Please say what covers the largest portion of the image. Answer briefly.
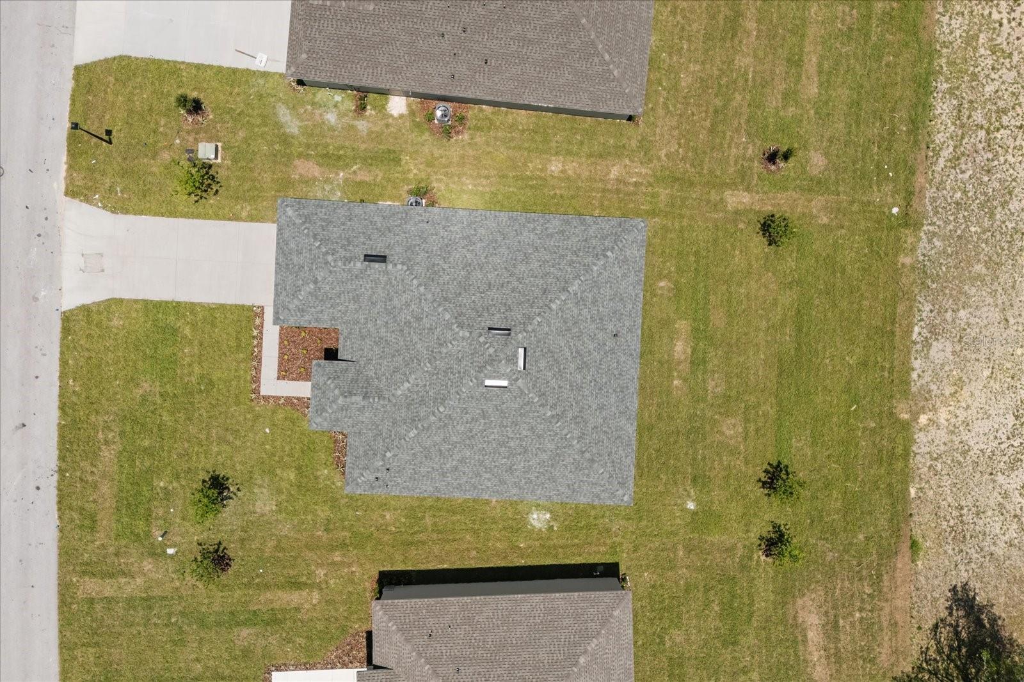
grass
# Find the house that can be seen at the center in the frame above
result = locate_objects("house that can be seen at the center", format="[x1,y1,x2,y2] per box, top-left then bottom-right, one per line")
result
[272,197,649,507]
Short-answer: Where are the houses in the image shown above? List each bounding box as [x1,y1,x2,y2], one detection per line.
[355,578,633,682]
[272,197,649,507]
[285,0,654,121]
